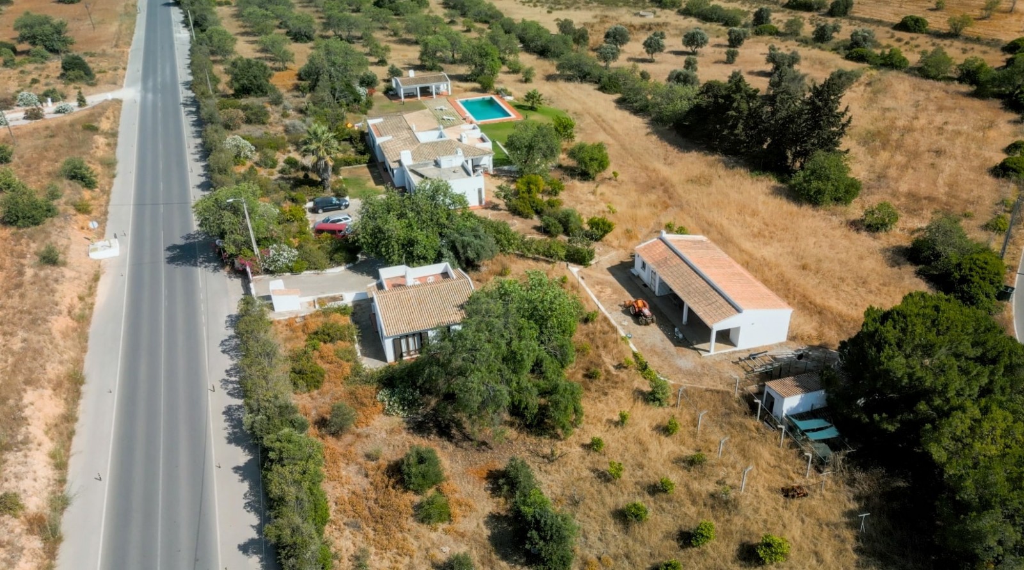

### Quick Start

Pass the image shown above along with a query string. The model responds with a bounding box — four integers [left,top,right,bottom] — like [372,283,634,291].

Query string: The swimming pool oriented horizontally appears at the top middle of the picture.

[448,94,522,124]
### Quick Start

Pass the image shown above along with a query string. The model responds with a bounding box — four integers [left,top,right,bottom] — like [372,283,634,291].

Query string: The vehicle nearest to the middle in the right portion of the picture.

[627,294,654,325]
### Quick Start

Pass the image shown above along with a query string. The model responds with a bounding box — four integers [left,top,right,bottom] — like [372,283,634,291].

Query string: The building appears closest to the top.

[384,69,454,102]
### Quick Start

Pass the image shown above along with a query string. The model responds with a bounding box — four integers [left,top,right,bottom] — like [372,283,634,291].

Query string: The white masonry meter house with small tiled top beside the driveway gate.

[272,280,299,310]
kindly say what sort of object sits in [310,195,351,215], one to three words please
car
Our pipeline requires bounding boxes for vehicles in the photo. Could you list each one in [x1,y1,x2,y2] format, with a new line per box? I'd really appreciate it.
[627,294,654,325]
[312,222,352,241]
[313,210,353,226]
[310,195,351,215]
